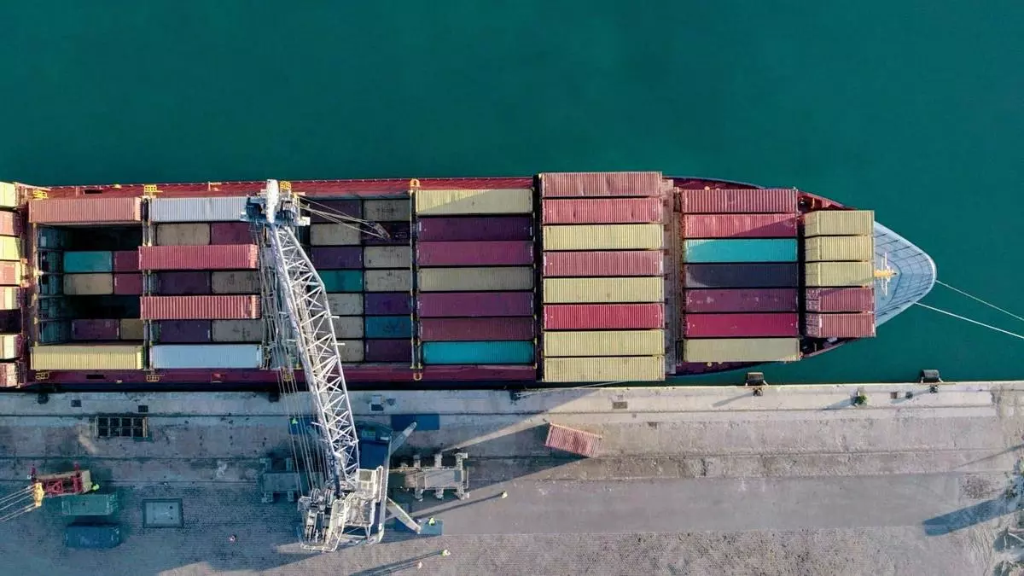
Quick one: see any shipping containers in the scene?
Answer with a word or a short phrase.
Yes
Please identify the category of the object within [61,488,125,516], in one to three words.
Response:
shipping container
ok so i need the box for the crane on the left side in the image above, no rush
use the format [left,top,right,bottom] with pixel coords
[240,178,470,554]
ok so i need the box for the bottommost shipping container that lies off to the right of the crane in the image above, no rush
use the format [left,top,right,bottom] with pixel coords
[545,420,602,456]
